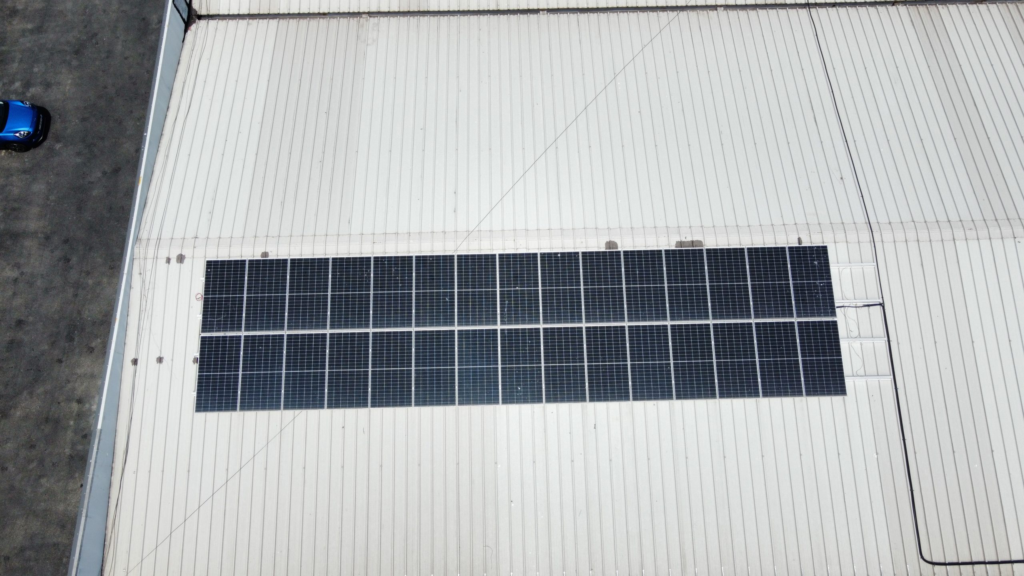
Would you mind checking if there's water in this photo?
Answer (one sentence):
No, the scene doesn't show any water.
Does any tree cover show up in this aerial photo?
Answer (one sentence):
No, there's no tree cover in this view.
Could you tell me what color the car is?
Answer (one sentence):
The car looks blue in the image.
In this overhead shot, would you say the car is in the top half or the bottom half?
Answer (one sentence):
The top half of the photo is where the car is.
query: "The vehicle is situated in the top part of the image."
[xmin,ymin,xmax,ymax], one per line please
[0,103,44,151]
